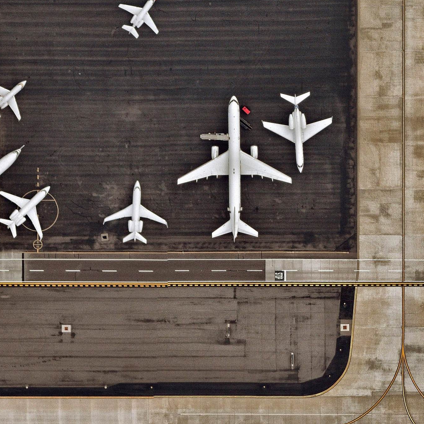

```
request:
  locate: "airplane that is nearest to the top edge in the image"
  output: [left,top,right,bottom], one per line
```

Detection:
[118,0,158,38]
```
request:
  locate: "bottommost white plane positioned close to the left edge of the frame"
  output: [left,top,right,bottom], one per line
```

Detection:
[0,187,50,241]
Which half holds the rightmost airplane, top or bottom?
top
